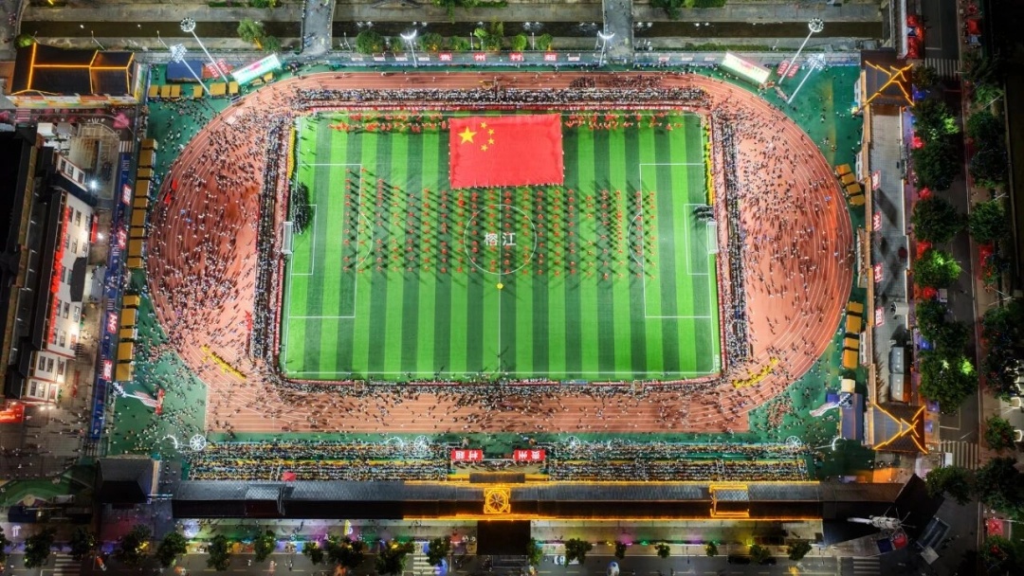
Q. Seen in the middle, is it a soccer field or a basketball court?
soccer field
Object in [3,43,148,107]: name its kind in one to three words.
building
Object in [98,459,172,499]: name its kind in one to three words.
building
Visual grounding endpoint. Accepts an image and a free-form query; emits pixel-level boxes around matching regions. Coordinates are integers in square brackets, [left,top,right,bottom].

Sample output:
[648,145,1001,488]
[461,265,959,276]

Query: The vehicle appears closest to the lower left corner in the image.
[93,554,105,570]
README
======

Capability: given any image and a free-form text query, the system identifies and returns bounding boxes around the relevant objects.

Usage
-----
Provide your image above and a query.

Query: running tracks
[151,72,849,436]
